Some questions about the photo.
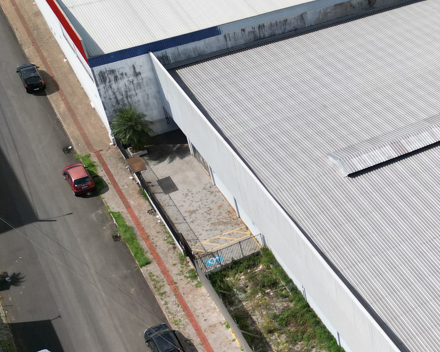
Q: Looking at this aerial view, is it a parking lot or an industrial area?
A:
industrial area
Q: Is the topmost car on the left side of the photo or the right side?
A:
left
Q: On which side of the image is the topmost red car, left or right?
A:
left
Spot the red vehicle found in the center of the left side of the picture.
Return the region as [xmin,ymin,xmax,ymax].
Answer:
[61,163,95,195]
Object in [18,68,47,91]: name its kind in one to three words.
car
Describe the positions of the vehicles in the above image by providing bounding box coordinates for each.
[18,68,47,91]
[61,163,95,195]
[143,326,182,352]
